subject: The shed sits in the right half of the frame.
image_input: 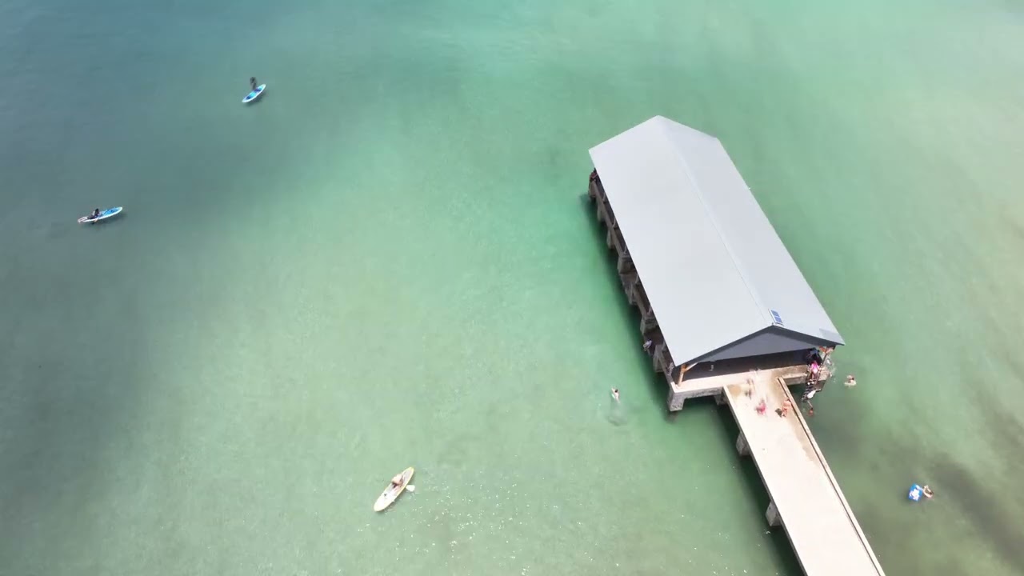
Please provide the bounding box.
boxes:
[590,115,844,387]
